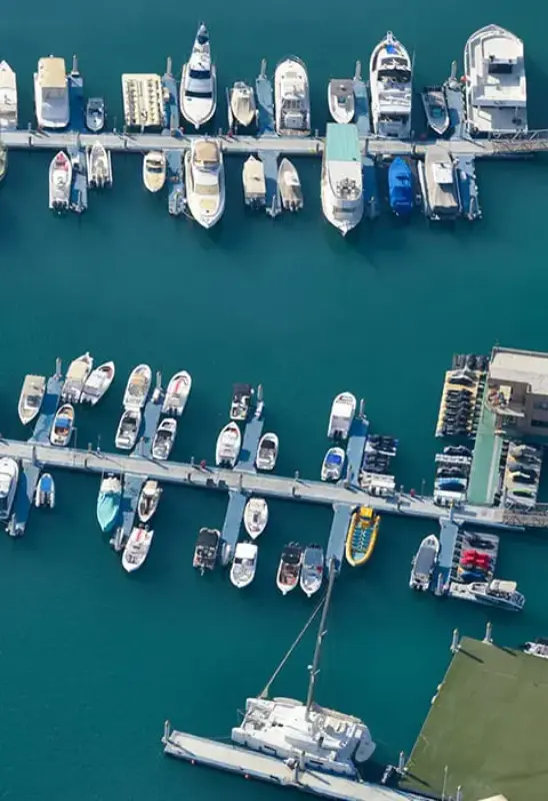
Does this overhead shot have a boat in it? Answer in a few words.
Yes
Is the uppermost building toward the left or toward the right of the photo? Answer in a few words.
right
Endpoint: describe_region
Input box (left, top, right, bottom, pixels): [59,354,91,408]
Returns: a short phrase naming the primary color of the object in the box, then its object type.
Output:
white boat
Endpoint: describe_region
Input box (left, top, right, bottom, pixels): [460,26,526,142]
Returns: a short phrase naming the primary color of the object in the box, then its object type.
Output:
white boat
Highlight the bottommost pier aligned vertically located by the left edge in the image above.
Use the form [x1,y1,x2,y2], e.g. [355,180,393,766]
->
[5,465,45,535]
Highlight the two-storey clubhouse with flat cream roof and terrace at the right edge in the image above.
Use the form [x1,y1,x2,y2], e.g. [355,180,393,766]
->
[484,343,548,441]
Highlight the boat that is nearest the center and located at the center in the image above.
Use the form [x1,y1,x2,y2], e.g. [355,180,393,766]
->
[230,382,254,423]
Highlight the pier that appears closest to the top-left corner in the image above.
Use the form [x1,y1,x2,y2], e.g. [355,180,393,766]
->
[61,74,91,133]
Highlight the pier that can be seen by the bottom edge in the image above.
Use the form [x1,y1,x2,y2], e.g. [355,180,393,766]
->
[163,733,420,801]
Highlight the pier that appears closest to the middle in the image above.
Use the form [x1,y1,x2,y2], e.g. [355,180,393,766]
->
[235,411,265,472]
